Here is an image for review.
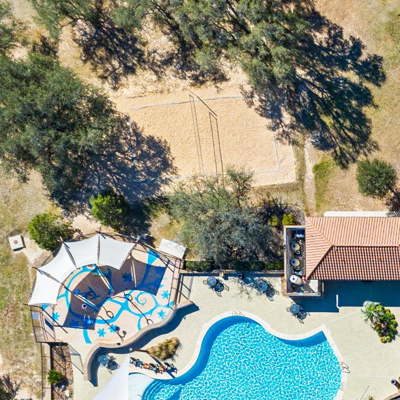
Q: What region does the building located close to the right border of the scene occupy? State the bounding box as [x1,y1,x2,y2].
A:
[304,217,400,284]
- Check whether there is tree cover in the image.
Yes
